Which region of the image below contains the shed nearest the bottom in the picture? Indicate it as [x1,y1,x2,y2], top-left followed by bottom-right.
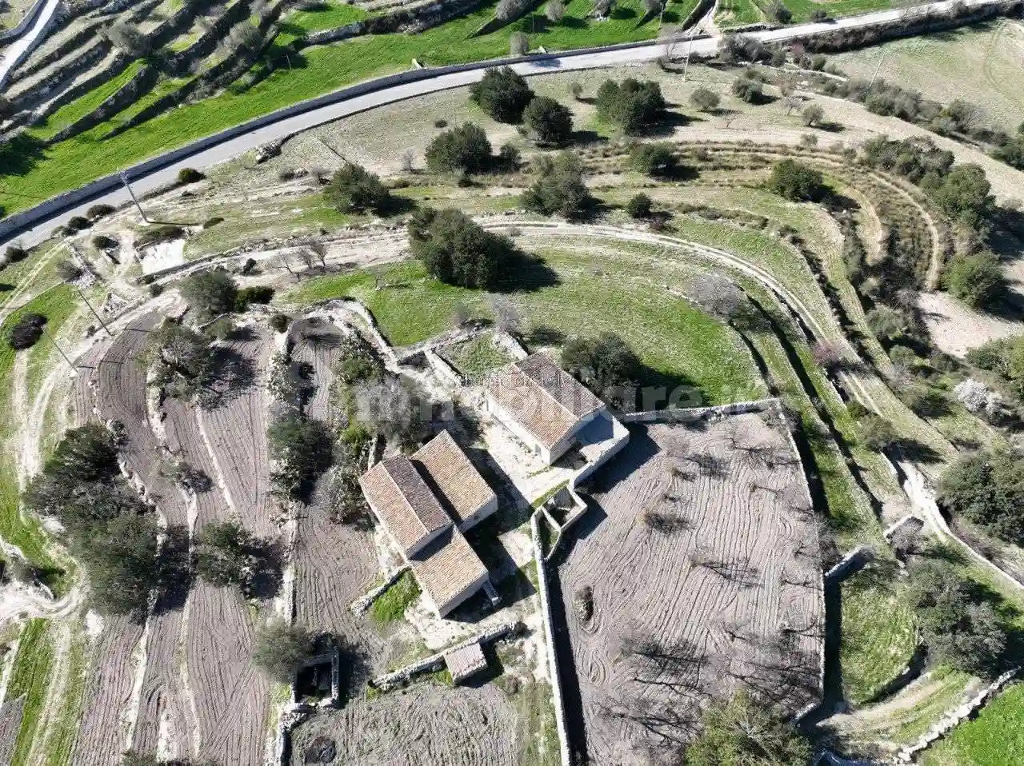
[443,642,488,683]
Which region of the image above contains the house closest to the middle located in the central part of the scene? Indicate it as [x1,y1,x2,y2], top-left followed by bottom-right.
[487,349,606,464]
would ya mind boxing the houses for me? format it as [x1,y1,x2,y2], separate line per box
[487,349,606,464]
[357,429,497,617]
